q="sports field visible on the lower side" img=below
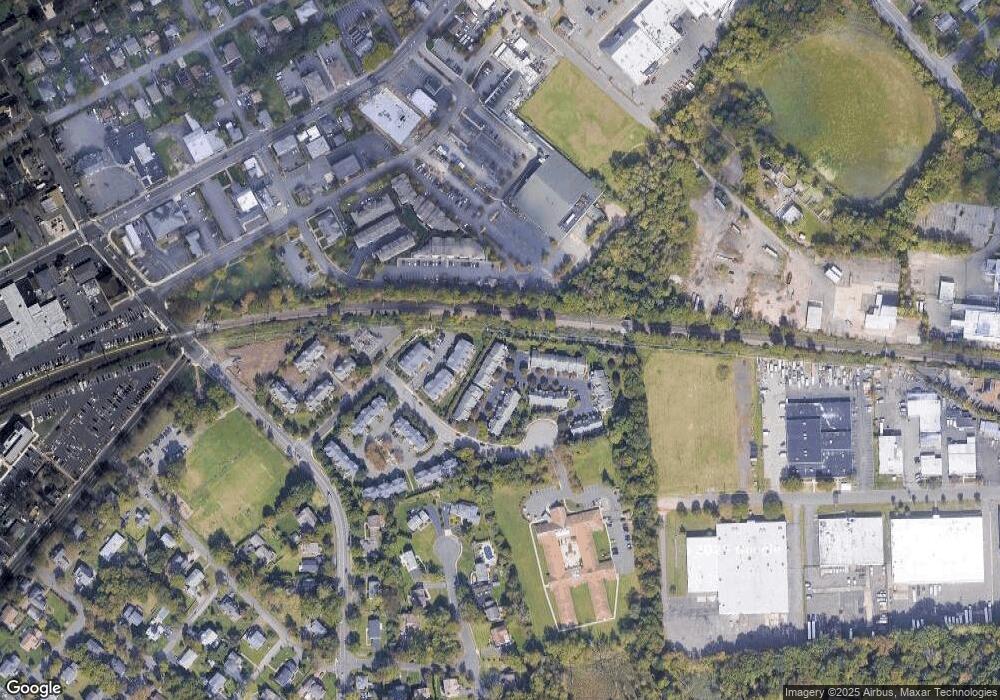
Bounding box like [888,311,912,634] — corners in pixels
[181,408,292,540]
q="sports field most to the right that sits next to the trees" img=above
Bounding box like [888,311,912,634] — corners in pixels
[738,32,938,198]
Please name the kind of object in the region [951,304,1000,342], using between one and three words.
building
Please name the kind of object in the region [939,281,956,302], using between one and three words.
shed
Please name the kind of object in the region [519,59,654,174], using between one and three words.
sports field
